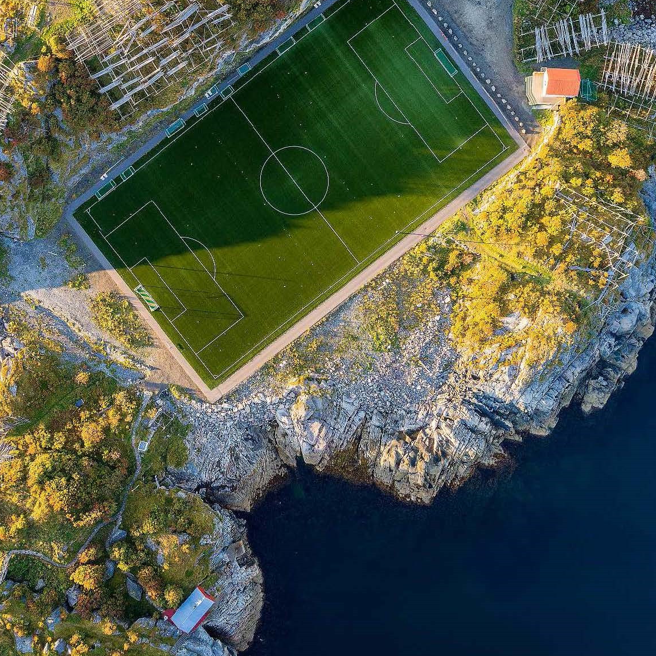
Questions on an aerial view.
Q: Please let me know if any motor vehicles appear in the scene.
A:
No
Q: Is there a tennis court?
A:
No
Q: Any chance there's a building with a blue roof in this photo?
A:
Yes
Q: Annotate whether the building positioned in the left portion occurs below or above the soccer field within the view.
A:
below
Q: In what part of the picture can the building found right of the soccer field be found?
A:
top right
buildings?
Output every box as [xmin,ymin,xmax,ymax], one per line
[168,583,214,630]
[526,68,582,109]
